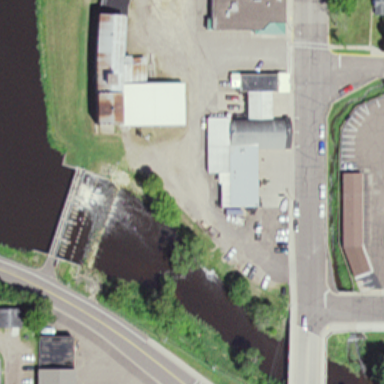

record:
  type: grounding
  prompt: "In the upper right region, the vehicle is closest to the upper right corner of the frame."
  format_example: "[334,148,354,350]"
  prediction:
[339,83,355,96]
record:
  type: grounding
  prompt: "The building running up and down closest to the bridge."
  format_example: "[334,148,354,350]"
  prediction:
[344,172,376,280]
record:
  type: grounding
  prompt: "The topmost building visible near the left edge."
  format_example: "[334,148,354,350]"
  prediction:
[0,307,21,329]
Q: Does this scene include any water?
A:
Yes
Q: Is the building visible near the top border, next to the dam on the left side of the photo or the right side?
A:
left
